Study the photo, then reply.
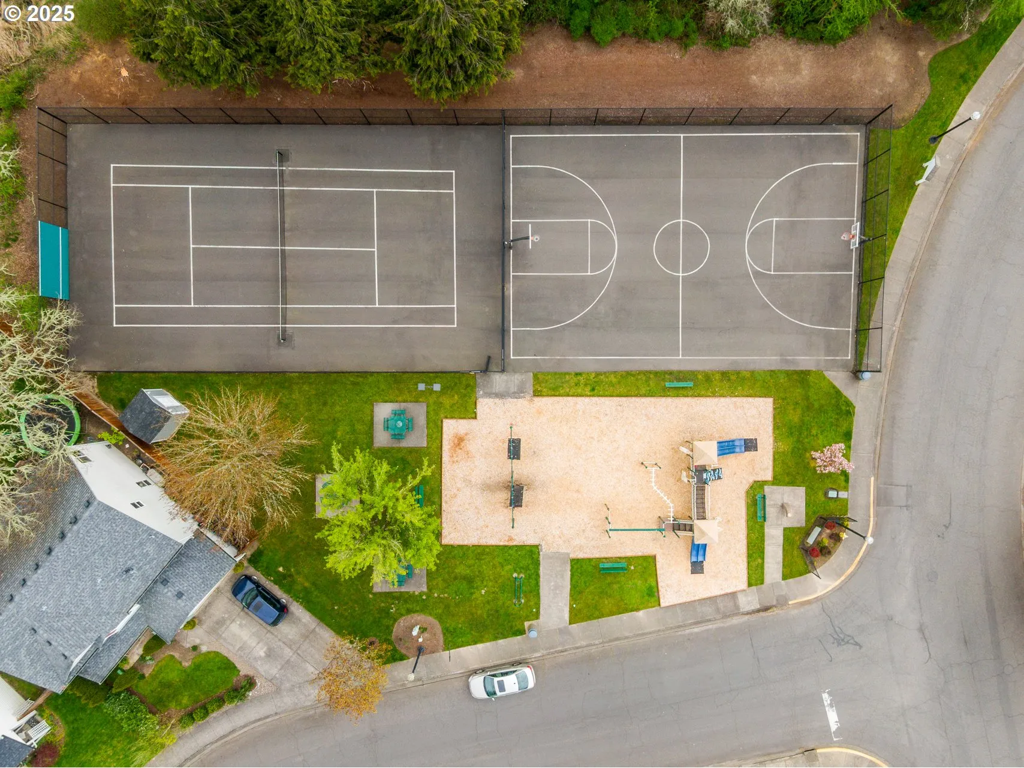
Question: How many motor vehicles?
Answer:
2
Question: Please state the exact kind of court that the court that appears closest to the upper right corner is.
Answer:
basketball court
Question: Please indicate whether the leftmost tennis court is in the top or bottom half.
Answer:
top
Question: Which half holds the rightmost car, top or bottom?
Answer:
bottom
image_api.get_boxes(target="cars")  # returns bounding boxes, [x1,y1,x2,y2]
[468,661,538,702]
[230,573,290,629]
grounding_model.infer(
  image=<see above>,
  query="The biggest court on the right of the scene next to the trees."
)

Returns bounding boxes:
[505,125,866,372]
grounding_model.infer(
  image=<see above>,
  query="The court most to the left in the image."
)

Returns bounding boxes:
[67,123,502,371]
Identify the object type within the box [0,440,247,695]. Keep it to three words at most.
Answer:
house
